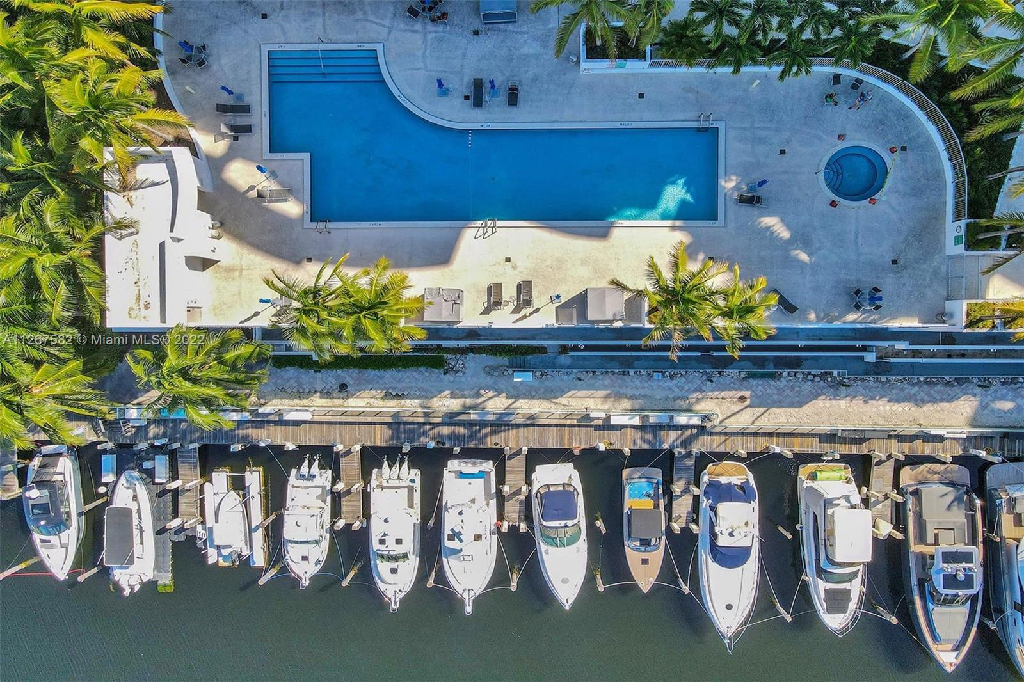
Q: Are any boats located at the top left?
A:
No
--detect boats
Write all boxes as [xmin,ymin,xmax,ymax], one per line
[622,467,668,593]
[441,460,497,615]
[218,489,250,568]
[697,461,763,656]
[97,470,159,595]
[281,456,335,589]
[19,446,87,581]
[793,463,879,641]
[531,463,588,610]
[895,464,991,673]
[976,461,1024,682]
[367,456,422,613]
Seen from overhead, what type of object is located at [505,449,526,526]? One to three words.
pier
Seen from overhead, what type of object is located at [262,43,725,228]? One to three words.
swimming pool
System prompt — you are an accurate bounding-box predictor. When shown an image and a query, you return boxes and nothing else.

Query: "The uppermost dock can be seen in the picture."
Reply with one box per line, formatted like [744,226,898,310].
[1,421,1024,457]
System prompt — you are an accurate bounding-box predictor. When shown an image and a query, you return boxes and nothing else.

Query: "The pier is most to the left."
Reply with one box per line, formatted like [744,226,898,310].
[0,440,22,500]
